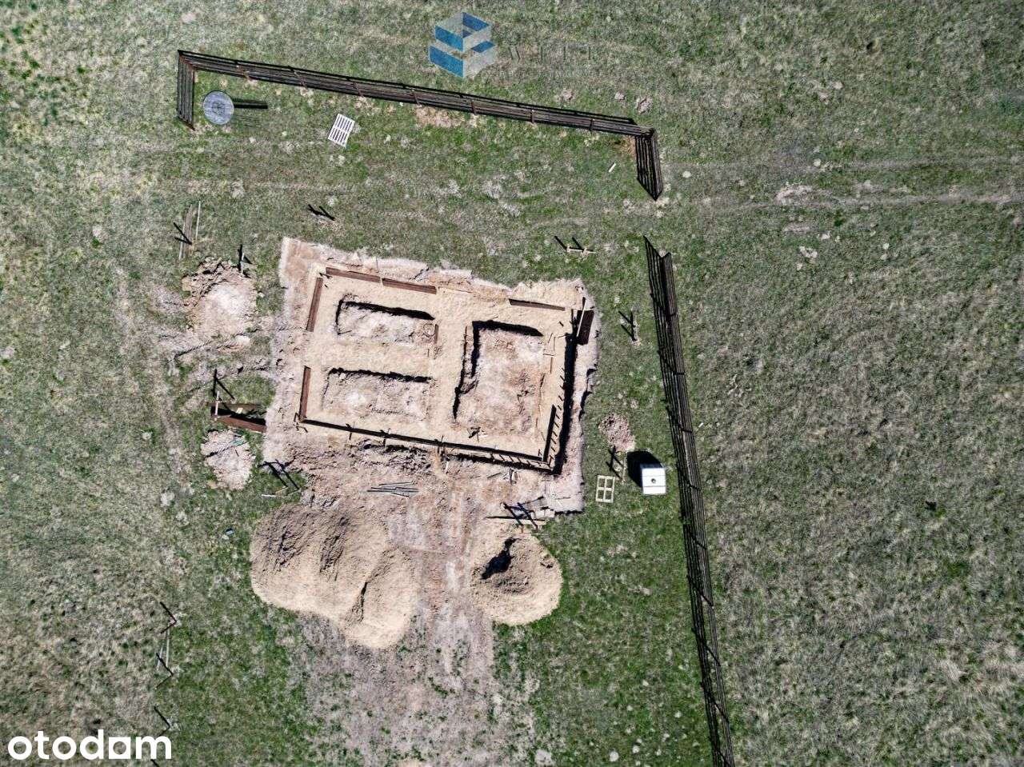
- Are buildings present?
No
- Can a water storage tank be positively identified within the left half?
No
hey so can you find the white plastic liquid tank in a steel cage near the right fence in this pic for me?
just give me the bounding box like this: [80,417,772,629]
[638,465,665,495]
